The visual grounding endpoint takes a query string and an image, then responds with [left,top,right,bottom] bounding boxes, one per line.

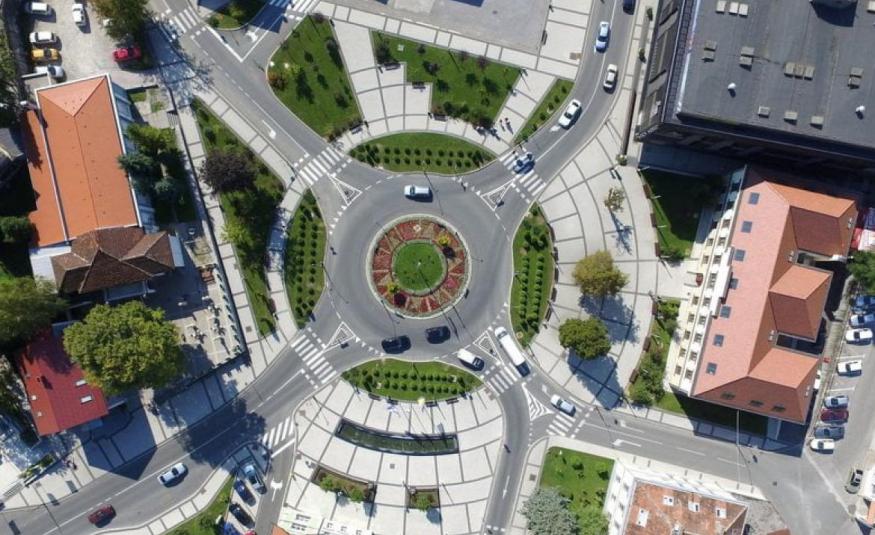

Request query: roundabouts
[326,174,511,359]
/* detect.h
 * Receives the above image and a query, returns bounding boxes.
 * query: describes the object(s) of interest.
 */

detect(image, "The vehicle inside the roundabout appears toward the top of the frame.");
[404,185,431,197]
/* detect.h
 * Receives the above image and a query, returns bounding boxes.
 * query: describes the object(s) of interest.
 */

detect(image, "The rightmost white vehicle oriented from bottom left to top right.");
[559,101,581,127]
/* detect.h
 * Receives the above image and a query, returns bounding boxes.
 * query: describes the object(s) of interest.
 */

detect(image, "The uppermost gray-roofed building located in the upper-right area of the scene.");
[639,0,875,175]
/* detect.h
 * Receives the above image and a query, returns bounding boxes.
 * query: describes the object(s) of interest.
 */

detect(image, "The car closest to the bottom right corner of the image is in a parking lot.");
[844,466,862,493]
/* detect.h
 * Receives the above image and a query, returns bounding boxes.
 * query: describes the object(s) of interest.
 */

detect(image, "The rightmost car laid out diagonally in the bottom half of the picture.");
[550,395,575,414]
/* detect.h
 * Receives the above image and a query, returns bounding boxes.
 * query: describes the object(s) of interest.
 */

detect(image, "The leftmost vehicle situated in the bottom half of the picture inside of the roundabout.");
[383,337,410,350]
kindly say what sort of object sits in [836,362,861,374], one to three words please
vehicle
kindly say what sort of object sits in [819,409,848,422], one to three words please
vehicle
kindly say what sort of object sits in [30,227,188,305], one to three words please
house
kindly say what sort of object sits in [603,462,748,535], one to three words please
building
